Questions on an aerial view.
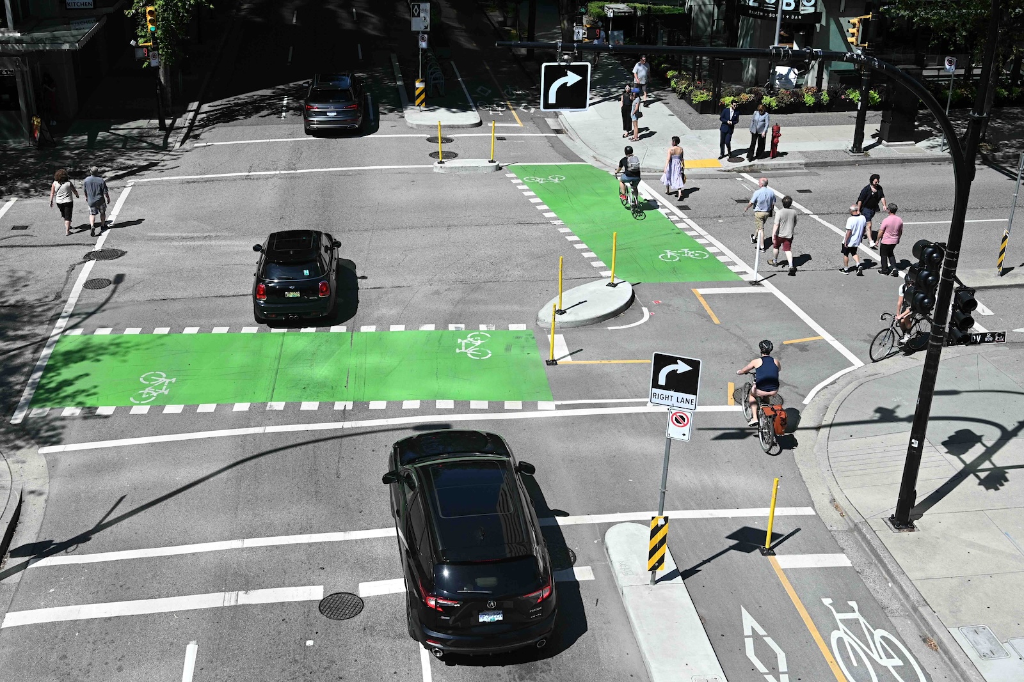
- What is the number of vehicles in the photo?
3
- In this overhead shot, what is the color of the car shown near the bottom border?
black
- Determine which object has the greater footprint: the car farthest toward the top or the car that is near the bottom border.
the car that is near the bottom border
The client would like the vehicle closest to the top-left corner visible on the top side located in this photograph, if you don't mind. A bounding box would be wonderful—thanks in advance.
[300,70,368,134]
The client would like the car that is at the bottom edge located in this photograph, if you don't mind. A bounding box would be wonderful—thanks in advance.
[381,431,556,662]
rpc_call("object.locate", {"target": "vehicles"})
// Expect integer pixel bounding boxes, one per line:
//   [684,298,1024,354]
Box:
[381,431,556,662]
[300,70,368,134]
[250,229,344,322]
